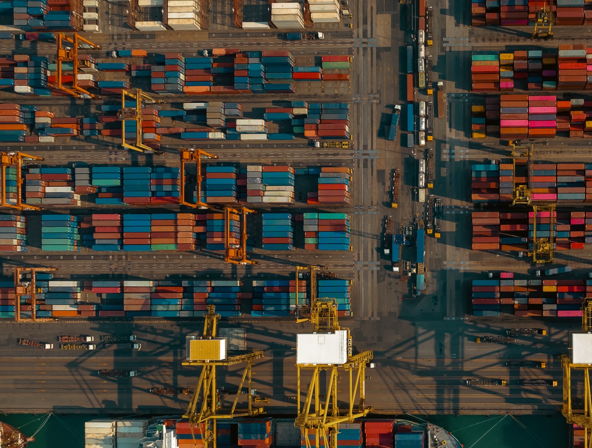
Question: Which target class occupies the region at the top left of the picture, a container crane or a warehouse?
container crane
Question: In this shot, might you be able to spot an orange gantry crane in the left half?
Yes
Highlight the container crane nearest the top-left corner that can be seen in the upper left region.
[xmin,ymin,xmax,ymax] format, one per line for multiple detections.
[54,32,103,98]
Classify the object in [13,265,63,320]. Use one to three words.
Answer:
container crane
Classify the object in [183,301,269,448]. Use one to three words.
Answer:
container crane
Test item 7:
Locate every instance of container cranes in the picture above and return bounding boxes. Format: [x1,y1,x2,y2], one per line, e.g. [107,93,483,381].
[0,149,50,210]
[179,147,219,209]
[297,295,377,448]
[183,301,269,448]
[54,32,103,98]
[13,265,63,320]
[224,207,262,264]
[508,147,536,207]
[550,294,592,448]
[121,90,163,153]
[294,264,327,322]
[528,206,557,264]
